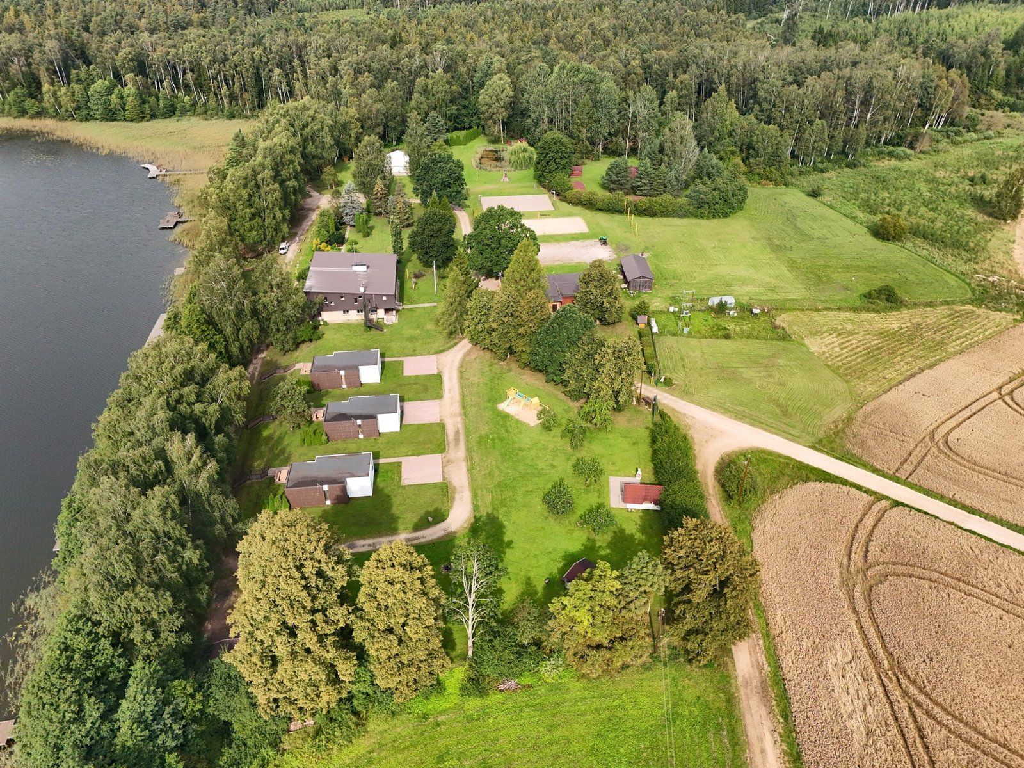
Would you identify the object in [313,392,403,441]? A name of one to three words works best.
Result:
building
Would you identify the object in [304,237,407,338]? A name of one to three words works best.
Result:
house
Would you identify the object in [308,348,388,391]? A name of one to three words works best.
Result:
building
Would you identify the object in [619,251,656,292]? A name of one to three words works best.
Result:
barn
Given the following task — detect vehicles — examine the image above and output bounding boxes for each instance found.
[277,237,290,251]
[598,231,608,246]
